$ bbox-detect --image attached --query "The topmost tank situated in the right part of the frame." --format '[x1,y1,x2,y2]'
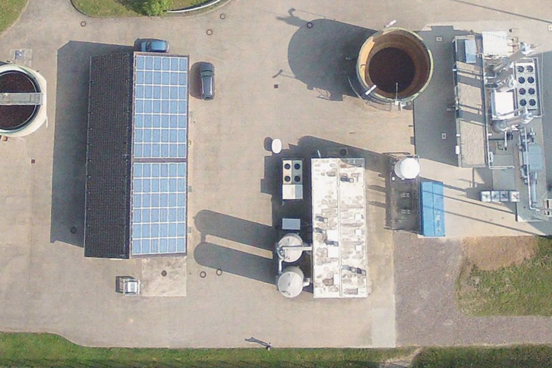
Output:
[352,26,435,114]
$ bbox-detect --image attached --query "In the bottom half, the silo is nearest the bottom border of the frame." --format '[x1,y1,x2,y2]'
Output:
[277,264,311,296]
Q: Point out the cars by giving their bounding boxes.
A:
[141,39,171,54]
[197,63,215,101]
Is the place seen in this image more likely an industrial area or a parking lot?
industrial area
